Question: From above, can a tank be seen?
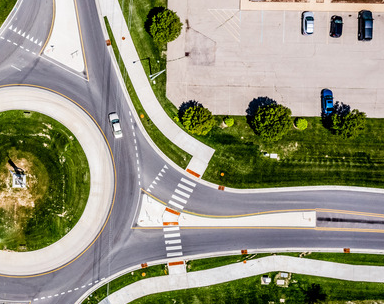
No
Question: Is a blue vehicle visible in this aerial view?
Yes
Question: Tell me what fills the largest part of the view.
paved ground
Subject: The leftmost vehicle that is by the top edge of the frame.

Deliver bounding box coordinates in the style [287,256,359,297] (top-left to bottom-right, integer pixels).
[299,11,315,37]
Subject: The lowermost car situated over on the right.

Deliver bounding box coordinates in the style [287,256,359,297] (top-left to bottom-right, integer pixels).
[319,88,335,116]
